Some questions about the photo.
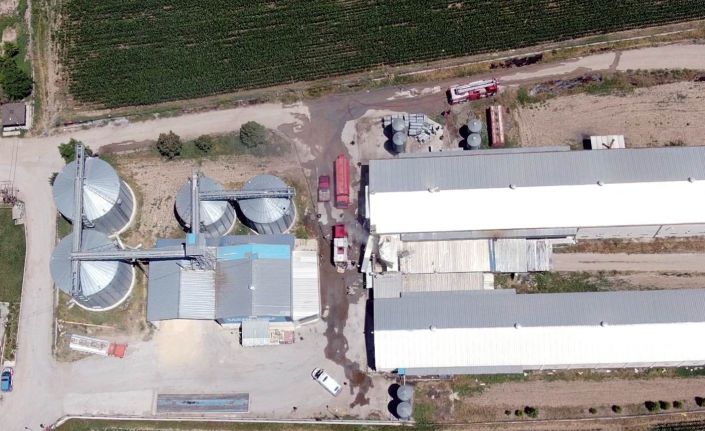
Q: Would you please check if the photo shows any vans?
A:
Yes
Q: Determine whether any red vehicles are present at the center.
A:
Yes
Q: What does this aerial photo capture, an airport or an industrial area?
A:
industrial area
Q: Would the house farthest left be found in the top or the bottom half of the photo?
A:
top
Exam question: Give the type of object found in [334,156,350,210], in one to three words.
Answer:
vehicle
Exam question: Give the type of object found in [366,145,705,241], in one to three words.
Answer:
shed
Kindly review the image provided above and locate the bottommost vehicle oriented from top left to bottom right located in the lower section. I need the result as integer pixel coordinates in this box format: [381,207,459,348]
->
[312,366,342,397]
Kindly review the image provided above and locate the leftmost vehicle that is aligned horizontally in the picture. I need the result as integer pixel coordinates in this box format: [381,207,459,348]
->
[67,334,131,362]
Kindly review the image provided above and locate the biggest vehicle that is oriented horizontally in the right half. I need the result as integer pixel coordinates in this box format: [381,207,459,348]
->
[446,83,499,106]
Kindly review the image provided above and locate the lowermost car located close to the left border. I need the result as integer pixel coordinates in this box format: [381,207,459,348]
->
[1,368,15,391]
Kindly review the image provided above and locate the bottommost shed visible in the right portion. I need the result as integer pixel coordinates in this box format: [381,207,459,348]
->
[372,289,705,377]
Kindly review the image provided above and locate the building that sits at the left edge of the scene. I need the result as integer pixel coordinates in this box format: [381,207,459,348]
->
[1,101,34,136]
